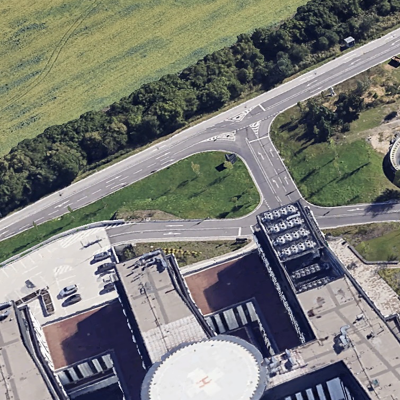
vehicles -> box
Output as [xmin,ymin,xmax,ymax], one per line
[60,286,78,295]
[96,265,113,273]
[93,253,110,260]
[99,285,115,293]
[63,295,81,305]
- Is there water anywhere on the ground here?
No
